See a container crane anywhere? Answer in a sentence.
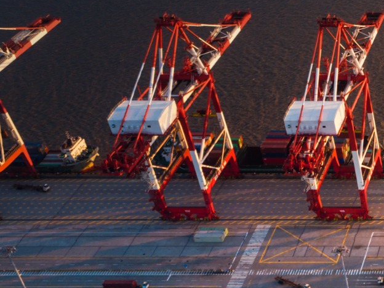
Yes, the image includes a container crane.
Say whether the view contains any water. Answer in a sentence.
Yes, there is water in the image.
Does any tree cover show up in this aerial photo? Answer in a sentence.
No, tree cover can't be seen anywhere here.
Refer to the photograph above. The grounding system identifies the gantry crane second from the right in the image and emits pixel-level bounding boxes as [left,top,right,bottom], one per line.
[103,8,250,220]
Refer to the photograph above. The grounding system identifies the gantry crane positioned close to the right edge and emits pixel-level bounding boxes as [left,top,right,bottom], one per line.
[283,9,384,220]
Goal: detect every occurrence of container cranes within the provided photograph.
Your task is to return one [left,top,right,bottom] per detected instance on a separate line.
[283,9,384,220]
[0,10,61,179]
[103,8,250,220]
